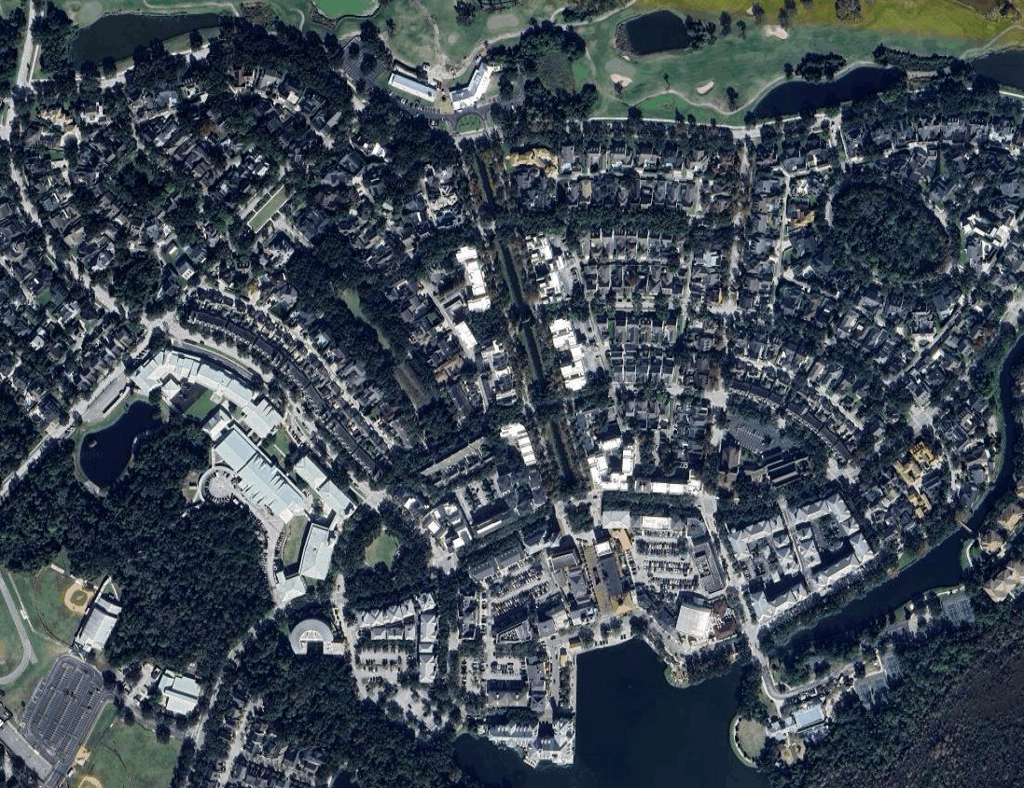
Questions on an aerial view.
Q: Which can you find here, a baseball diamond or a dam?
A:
baseball diamond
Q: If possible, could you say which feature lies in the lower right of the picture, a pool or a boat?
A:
pool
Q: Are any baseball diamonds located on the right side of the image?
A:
No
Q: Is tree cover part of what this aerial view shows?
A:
Yes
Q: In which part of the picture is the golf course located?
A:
top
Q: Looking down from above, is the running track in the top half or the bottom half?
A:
bottom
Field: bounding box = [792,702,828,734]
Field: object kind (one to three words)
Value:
swimming pool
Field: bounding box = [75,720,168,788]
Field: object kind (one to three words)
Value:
baseball field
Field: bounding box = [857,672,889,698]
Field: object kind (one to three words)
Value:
tennis court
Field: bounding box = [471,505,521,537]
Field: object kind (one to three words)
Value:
building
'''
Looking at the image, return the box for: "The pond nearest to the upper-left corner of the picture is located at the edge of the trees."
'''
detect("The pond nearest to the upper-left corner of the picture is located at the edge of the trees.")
[71,15,218,68]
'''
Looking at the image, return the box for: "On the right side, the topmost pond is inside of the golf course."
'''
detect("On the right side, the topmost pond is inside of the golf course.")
[629,12,687,52]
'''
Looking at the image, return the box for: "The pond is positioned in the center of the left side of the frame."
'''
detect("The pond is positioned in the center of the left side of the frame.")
[82,403,160,485]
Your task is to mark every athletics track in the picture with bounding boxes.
[0,577,37,680]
